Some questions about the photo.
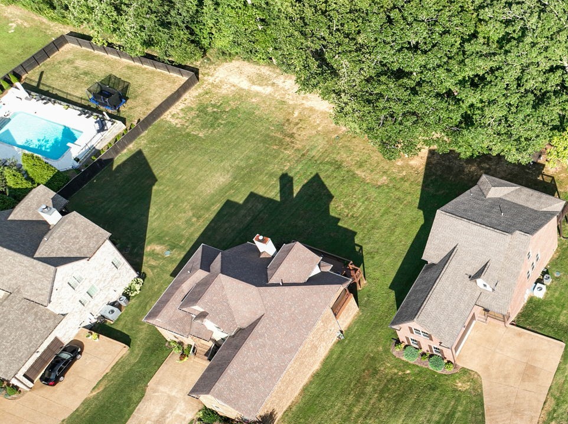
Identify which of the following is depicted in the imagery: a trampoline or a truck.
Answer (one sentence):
There is a trampoline in the scene.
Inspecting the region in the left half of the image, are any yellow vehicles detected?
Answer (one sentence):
No, looking in the left half of the image, there is no yellow vehicle.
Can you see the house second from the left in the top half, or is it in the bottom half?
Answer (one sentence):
The house second from the left sits in the bottom half of the picture.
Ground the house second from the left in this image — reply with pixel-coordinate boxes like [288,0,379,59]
[142,233,365,424]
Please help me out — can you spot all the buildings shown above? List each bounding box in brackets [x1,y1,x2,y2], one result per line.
[389,174,568,364]
[142,233,365,424]
[0,183,137,390]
